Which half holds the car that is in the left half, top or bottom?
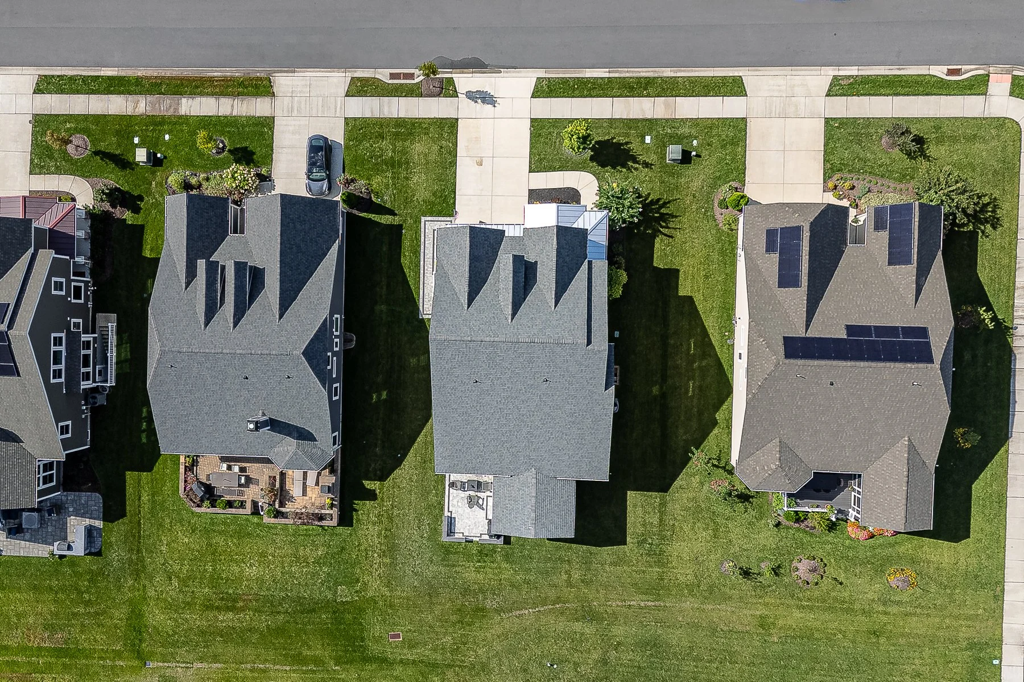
top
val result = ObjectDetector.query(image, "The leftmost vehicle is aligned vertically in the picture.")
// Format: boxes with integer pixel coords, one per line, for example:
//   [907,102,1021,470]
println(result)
[302,134,333,197]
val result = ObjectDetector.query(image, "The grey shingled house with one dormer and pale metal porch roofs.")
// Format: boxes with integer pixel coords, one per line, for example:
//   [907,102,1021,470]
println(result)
[430,204,615,538]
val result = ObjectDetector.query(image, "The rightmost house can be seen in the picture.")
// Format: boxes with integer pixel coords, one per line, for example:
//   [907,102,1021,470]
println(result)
[727,202,955,531]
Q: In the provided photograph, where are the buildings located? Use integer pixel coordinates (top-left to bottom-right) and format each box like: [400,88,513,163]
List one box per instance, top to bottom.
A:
[0,192,101,536]
[146,193,348,472]
[727,202,955,531]
[430,204,615,538]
